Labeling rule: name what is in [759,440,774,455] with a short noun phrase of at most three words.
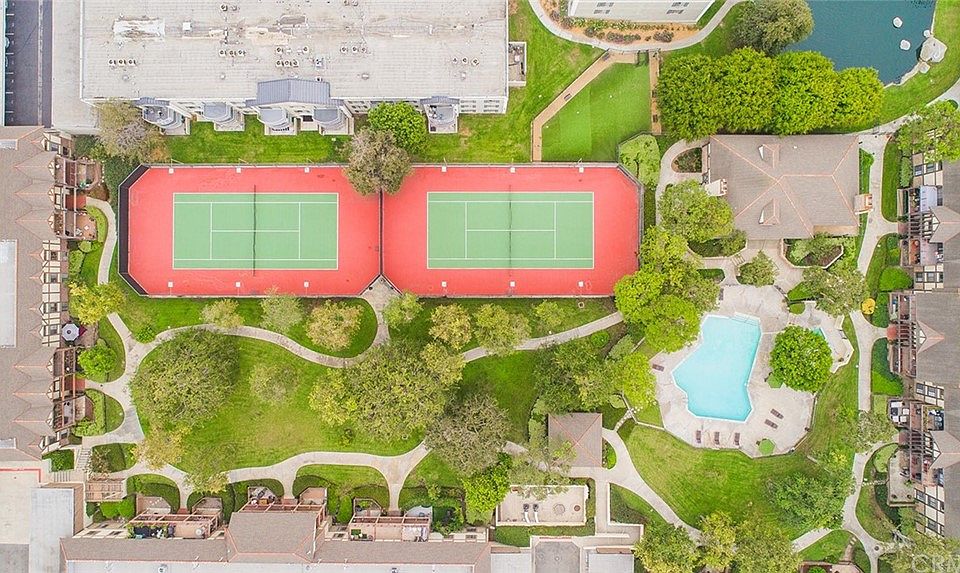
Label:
umbrella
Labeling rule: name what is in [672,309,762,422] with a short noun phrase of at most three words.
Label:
swimming pool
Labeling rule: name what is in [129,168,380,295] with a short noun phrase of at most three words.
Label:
tennis court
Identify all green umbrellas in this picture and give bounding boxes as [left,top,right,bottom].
[766,374,779,388]
[759,440,774,455]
